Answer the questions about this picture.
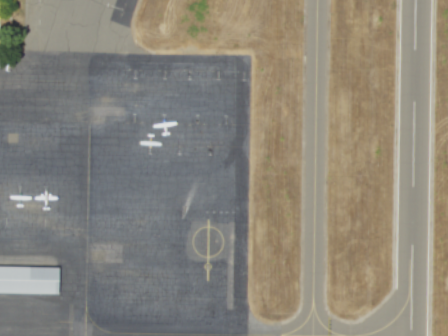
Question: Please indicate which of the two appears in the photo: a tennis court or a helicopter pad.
helicopter pad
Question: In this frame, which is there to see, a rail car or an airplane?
airplane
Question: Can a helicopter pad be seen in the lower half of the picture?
Yes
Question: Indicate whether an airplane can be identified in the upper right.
No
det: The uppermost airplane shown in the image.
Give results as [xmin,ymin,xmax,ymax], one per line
[154,120,178,136]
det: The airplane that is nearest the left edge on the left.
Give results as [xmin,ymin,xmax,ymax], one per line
[9,193,32,208]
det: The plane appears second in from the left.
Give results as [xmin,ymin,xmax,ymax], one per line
[34,192,58,210]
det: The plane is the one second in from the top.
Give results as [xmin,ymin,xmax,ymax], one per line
[140,134,162,150]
